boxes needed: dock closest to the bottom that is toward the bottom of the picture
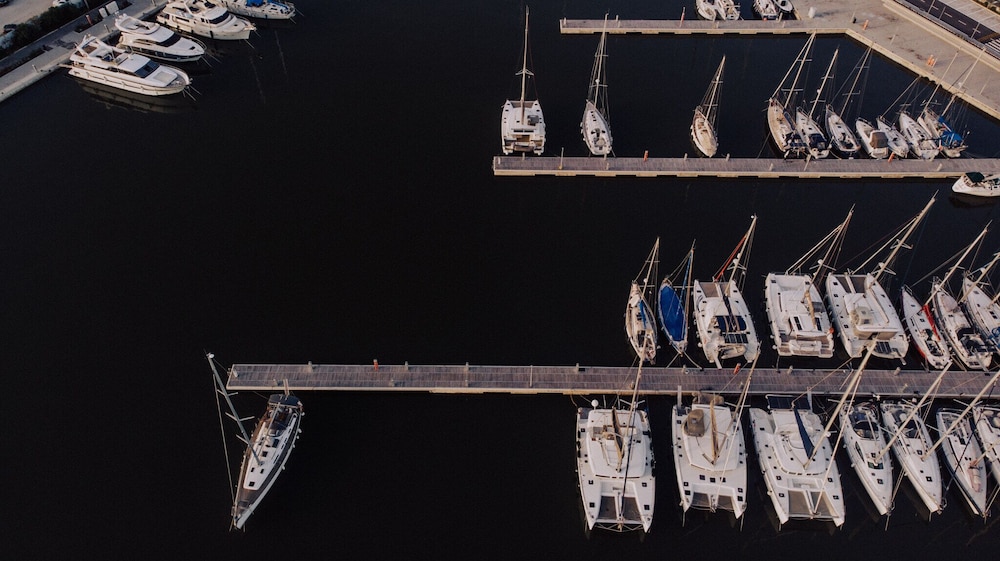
[228,365,1000,400]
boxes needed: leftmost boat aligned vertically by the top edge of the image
[499,2,546,156]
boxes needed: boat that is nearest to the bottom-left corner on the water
[207,350,309,542]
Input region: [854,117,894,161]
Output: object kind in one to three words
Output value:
boat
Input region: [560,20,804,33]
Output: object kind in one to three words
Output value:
pier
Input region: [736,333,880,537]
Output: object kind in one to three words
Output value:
boat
